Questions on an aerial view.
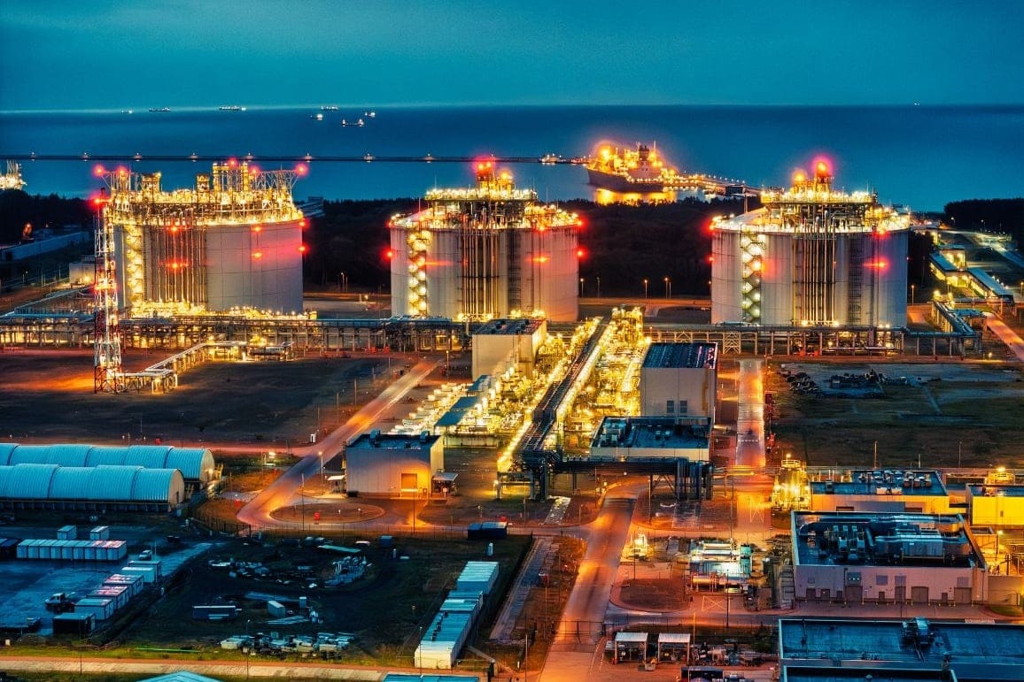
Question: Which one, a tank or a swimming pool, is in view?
tank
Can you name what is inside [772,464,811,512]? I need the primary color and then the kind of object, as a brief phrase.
yellow storage tank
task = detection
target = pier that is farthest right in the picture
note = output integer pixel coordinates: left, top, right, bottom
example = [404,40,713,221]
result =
[679,172,890,204]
